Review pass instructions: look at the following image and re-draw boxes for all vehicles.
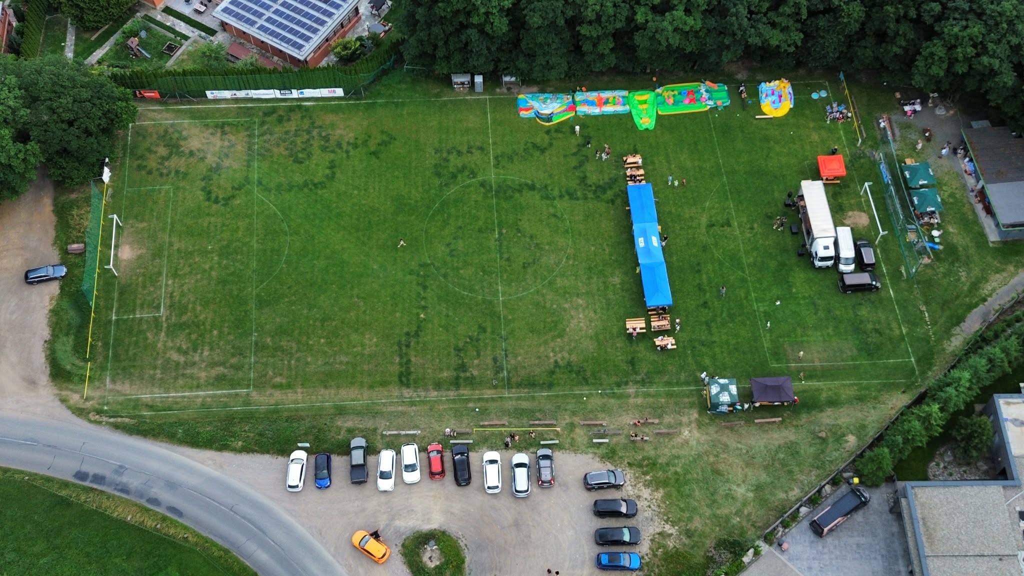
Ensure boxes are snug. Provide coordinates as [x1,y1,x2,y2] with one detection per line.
[583,469,625,492]
[838,274,879,294]
[810,489,869,539]
[348,440,368,487]
[314,454,333,491]
[798,181,838,269]
[836,226,857,271]
[595,526,641,548]
[25,266,68,286]
[593,499,638,520]
[375,451,396,492]
[511,455,531,499]
[352,533,391,564]
[482,453,502,495]
[597,551,641,573]
[287,452,308,494]
[426,446,445,482]
[451,446,471,488]
[535,450,555,490]
[856,242,875,273]
[400,444,420,486]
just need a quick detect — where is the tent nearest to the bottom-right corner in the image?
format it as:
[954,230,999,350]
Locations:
[748,378,794,411]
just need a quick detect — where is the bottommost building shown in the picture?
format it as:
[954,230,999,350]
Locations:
[893,481,1024,576]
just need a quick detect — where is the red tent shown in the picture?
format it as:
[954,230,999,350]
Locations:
[814,156,846,186]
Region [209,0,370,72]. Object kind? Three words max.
house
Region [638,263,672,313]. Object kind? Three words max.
tent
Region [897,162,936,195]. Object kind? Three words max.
tent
